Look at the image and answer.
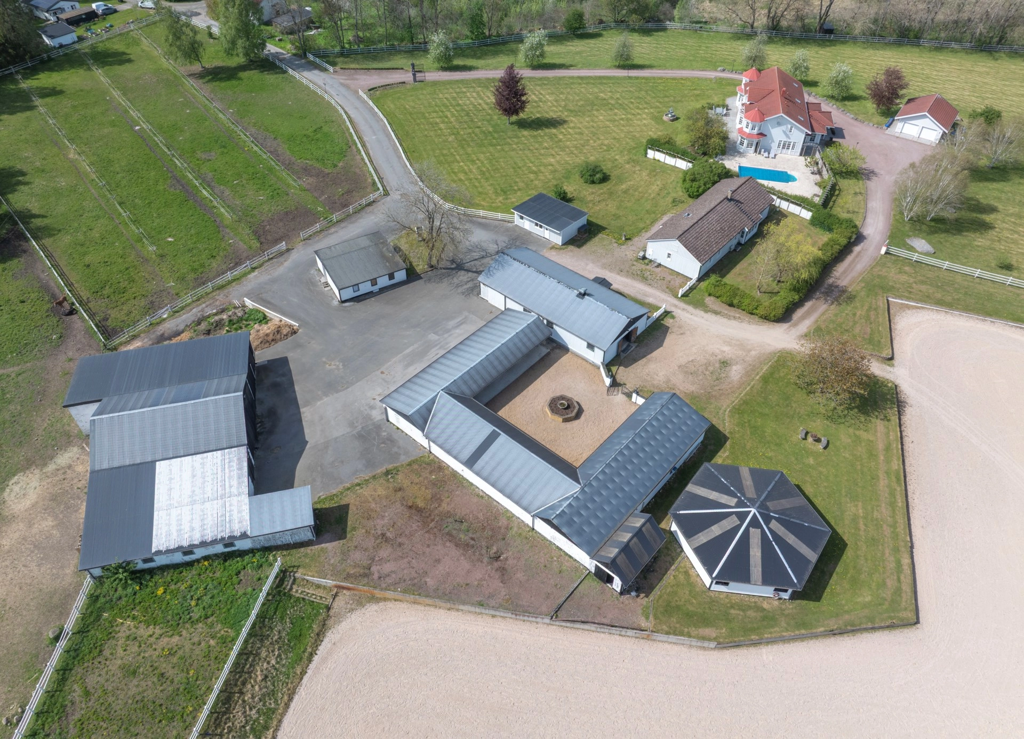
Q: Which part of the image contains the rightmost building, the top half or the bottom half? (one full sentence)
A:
The rightmost building sits in the top half of the picture.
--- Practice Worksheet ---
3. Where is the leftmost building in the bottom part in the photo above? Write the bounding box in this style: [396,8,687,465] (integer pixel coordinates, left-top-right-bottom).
[58,330,257,585]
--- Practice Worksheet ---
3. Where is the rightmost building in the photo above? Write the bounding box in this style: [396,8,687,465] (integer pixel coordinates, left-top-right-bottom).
[895,93,959,141]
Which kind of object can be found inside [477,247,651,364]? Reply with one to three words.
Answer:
barn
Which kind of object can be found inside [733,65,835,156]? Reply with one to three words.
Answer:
house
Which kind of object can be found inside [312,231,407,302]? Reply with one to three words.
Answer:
shed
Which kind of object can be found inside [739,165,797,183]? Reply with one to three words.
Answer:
swimming pool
